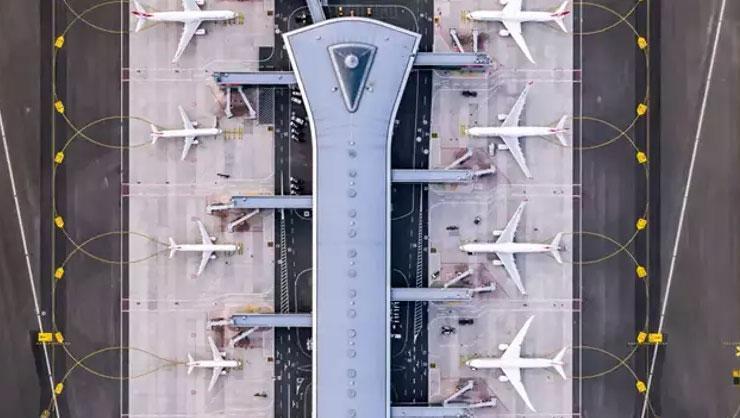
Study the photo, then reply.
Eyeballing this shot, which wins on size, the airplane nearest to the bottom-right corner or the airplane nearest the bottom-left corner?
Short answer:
the airplane nearest to the bottom-right corner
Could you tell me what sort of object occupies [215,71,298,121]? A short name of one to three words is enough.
jet bridge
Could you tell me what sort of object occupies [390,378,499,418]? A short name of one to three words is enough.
jet bridge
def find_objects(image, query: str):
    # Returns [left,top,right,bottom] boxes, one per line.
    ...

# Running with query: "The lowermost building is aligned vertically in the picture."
[282,17,421,418]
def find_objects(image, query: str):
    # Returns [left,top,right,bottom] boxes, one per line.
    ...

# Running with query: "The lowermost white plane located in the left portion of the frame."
[186,337,241,391]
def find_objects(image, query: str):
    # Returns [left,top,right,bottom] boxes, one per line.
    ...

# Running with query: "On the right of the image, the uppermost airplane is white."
[467,0,569,64]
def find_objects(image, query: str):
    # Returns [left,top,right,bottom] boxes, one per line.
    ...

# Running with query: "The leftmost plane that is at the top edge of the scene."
[134,0,238,61]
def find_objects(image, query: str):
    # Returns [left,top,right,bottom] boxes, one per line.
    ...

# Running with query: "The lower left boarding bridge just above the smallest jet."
[205,313,313,351]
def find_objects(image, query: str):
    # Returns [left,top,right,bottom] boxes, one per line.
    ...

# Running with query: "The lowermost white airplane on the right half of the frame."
[466,315,568,413]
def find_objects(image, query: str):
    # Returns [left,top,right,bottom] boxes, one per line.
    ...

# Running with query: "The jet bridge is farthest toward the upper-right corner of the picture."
[410,26,492,68]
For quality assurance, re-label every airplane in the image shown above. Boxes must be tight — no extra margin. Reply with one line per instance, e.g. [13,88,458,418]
[460,200,564,294]
[466,315,568,413]
[151,104,222,159]
[134,0,238,61]
[465,83,569,178]
[467,0,569,64]
[186,337,241,391]
[169,219,240,276]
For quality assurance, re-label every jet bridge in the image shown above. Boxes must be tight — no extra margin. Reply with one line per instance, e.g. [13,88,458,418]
[205,313,313,351]
[390,148,498,182]
[205,196,313,233]
[215,71,298,121]
[410,26,492,68]
[390,378,499,418]
[390,265,499,302]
